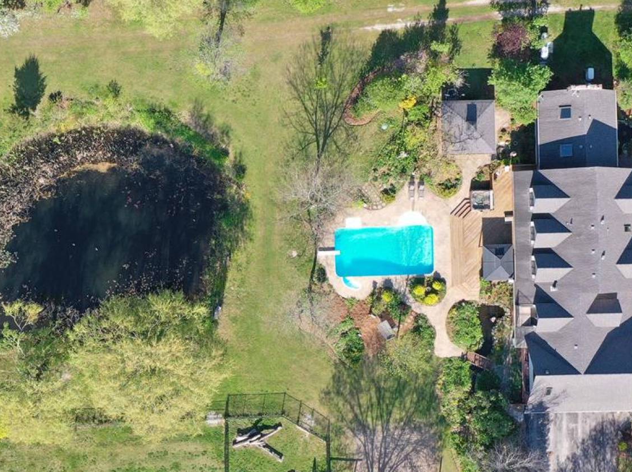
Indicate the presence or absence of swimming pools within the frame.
Yes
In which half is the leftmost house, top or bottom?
top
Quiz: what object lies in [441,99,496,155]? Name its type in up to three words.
house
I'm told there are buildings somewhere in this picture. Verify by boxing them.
[441,99,496,155]
[509,83,632,416]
